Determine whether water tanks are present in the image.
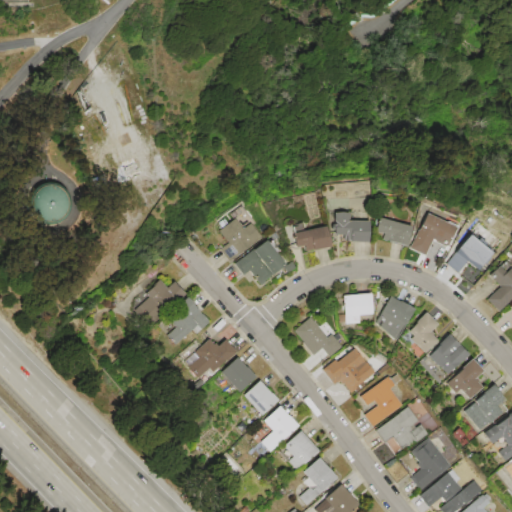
Yes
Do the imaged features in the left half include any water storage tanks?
Yes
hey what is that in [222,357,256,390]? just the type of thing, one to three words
house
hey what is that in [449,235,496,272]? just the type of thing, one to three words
house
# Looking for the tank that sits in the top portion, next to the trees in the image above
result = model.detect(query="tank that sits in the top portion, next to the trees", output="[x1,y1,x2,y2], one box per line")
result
[33,183,72,220]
